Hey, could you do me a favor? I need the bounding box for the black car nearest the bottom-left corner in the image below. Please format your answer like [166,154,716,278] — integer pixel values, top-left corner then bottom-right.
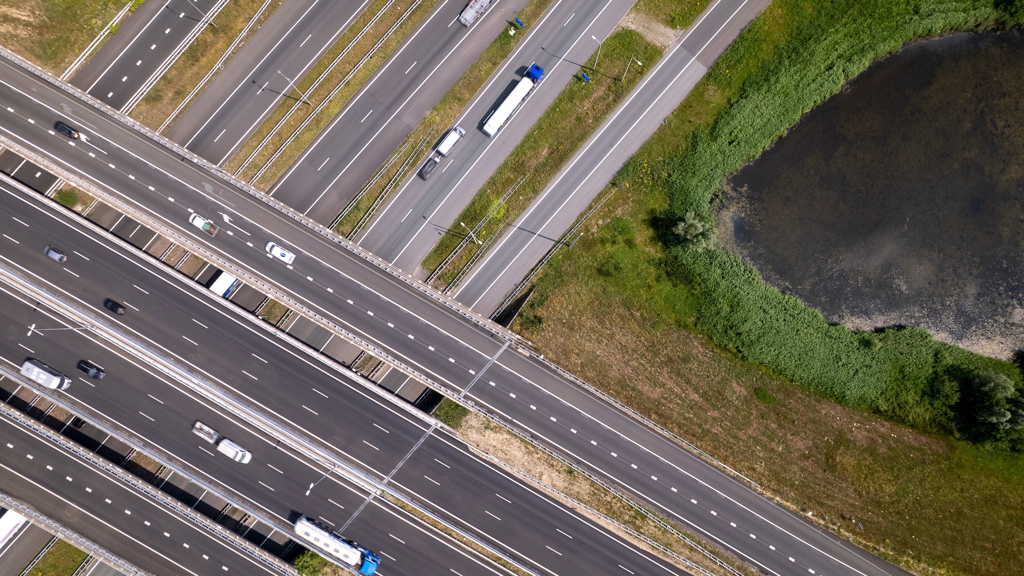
[73,419,88,431]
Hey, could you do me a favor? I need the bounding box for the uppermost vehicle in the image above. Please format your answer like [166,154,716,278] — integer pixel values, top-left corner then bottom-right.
[459,0,497,31]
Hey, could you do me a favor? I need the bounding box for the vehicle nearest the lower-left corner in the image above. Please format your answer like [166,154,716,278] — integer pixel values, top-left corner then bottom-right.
[0,512,25,549]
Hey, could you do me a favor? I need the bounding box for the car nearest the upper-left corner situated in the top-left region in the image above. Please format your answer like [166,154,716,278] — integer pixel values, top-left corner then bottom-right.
[54,121,81,141]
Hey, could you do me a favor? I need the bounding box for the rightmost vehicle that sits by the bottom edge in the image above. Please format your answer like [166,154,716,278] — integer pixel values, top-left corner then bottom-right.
[297,514,379,574]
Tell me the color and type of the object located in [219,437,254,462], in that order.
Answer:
white vehicle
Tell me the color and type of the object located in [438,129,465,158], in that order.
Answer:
white vehicle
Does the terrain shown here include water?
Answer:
Yes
